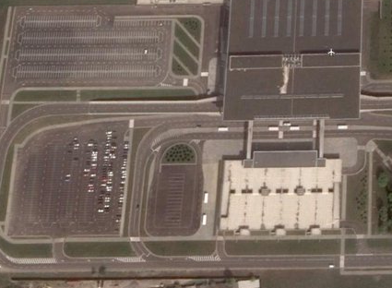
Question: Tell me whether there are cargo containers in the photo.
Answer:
No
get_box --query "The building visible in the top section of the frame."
[221,0,363,120]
